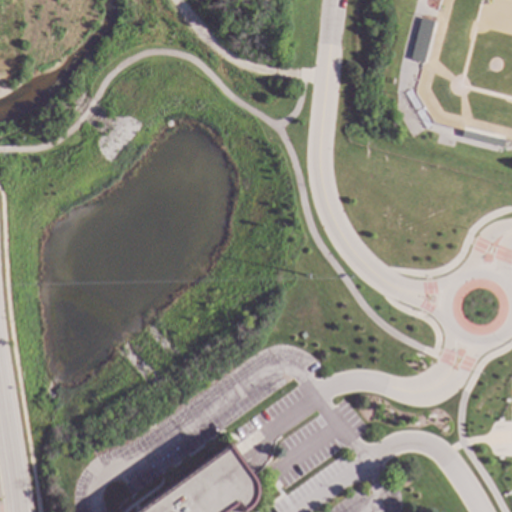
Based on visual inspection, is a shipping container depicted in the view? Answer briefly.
No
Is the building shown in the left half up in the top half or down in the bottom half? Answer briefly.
bottom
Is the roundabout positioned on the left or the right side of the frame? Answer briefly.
right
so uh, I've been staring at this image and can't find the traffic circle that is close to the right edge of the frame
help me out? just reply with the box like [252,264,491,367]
[422,236,512,371]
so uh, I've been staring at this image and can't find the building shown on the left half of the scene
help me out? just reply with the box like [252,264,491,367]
[136,445,262,512]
